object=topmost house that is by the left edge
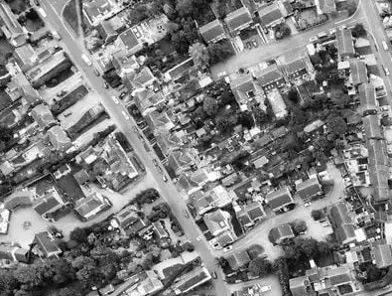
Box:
[0,0,30,37]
